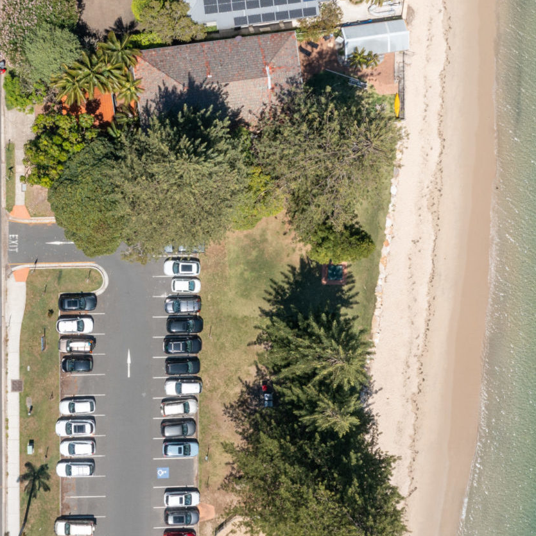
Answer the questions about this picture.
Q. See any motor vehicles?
Yes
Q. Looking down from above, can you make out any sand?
Yes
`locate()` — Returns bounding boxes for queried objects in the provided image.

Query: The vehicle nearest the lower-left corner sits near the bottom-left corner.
[56,517,96,535]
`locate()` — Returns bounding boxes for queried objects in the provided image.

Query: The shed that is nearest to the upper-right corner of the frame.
[339,19,409,61]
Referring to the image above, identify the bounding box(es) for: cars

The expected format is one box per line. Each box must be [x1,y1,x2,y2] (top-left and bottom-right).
[57,418,95,437]
[60,294,98,312]
[163,507,200,525]
[58,440,95,457]
[164,357,200,376]
[167,317,204,335]
[161,419,197,437]
[164,297,201,314]
[164,258,202,278]
[164,378,202,397]
[57,459,95,479]
[161,398,199,417]
[61,356,95,374]
[163,488,200,506]
[57,316,95,335]
[60,336,99,355]
[163,337,201,356]
[60,397,96,415]
[56,517,96,535]
[162,440,199,457]
[170,276,201,294]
